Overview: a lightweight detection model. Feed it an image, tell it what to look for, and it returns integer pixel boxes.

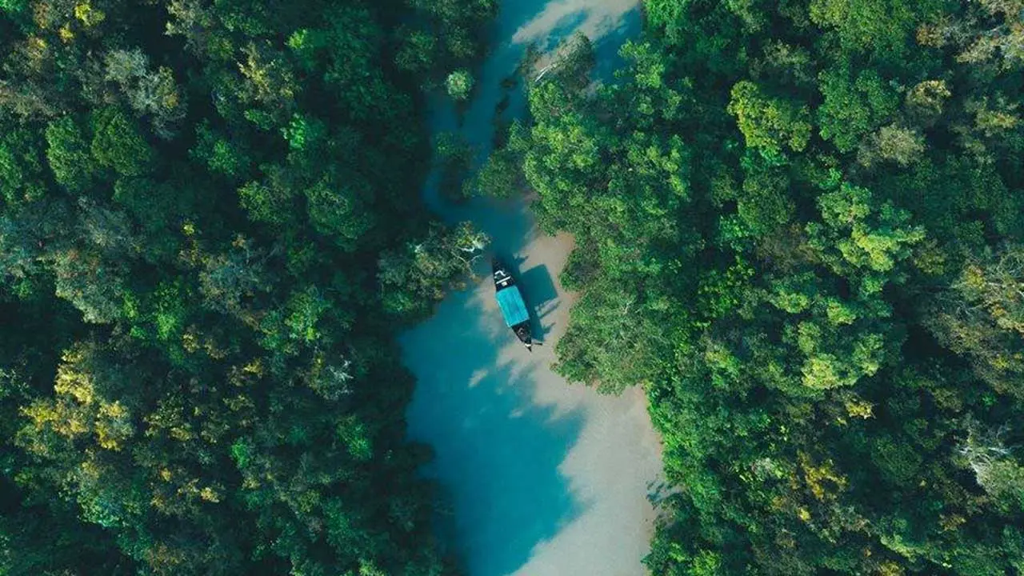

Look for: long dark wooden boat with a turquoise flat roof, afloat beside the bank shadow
[493,261,543,352]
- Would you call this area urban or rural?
rural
